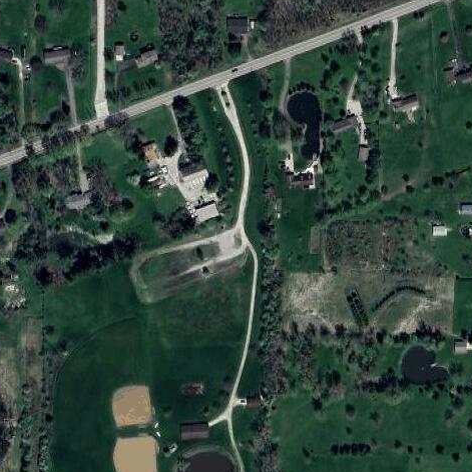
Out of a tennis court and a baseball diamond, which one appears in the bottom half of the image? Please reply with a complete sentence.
The feature located in the bottom half of the image is a baseball diamond.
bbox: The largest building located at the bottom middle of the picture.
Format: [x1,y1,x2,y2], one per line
[181,422,209,439]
